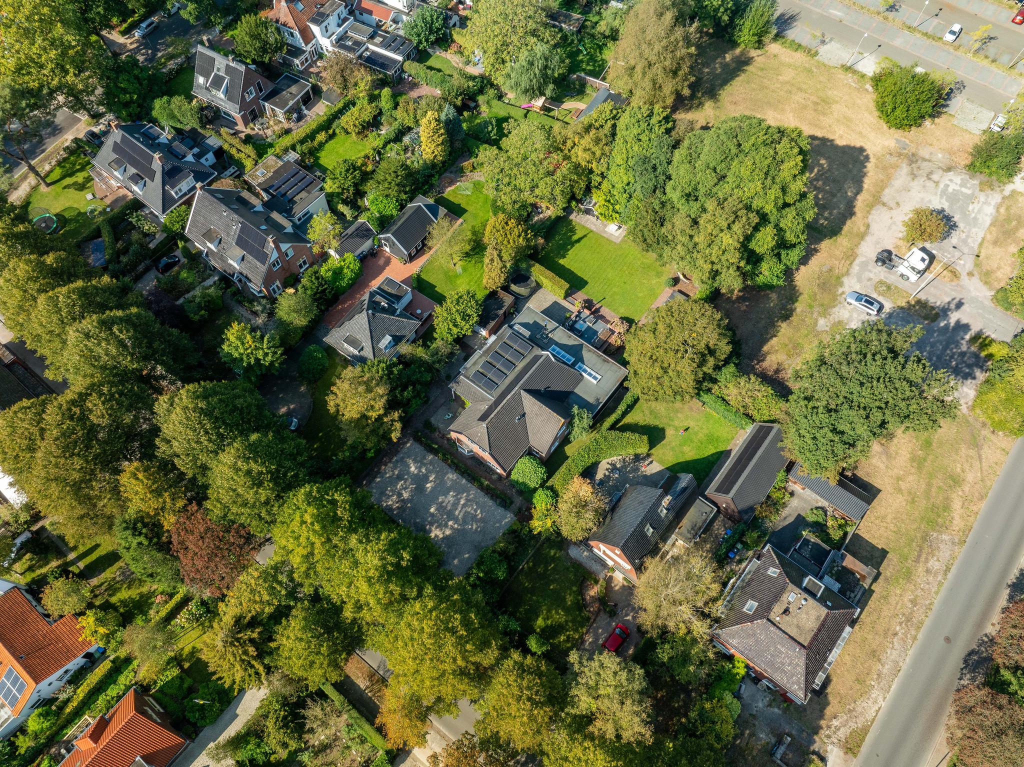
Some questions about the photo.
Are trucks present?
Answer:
Yes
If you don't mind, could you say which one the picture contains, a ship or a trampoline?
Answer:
trampoline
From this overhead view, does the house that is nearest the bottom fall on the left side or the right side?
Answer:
left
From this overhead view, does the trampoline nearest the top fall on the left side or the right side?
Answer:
left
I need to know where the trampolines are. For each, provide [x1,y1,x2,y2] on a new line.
[24,204,60,234]
[508,269,538,302]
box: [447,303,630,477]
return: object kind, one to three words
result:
house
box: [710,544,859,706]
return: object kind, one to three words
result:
house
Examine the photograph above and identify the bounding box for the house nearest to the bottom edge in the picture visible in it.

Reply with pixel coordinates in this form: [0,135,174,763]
[55,687,193,767]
